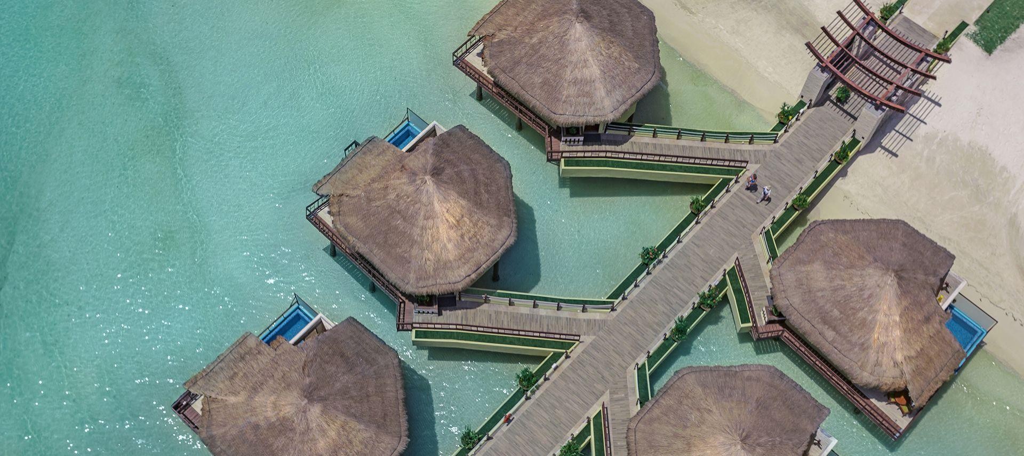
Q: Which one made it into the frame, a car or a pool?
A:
pool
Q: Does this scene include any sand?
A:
Yes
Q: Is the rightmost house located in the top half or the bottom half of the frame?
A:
bottom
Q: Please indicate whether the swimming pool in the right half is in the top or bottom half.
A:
bottom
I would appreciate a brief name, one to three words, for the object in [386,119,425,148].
swimming pool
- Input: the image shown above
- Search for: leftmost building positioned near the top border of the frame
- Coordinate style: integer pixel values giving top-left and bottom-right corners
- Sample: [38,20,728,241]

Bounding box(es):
[455,0,662,164]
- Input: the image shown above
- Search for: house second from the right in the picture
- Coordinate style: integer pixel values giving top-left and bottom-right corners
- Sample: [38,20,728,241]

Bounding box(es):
[612,366,837,456]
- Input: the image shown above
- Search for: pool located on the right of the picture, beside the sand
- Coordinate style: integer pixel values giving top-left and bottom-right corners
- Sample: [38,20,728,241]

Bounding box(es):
[944,303,993,385]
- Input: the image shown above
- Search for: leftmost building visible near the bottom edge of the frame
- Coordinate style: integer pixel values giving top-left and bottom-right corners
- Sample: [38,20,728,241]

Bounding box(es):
[172,288,411,456]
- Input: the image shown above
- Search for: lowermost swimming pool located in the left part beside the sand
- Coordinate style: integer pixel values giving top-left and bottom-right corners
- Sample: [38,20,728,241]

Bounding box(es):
[252,297,317,346]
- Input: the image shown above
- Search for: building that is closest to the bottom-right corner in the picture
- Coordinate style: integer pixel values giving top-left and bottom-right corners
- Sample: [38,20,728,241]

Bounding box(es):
[751,221,998,440]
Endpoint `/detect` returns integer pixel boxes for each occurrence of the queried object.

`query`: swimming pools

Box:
[944,303,993,385]
[386,119,425,148]
[252,297,317,346]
